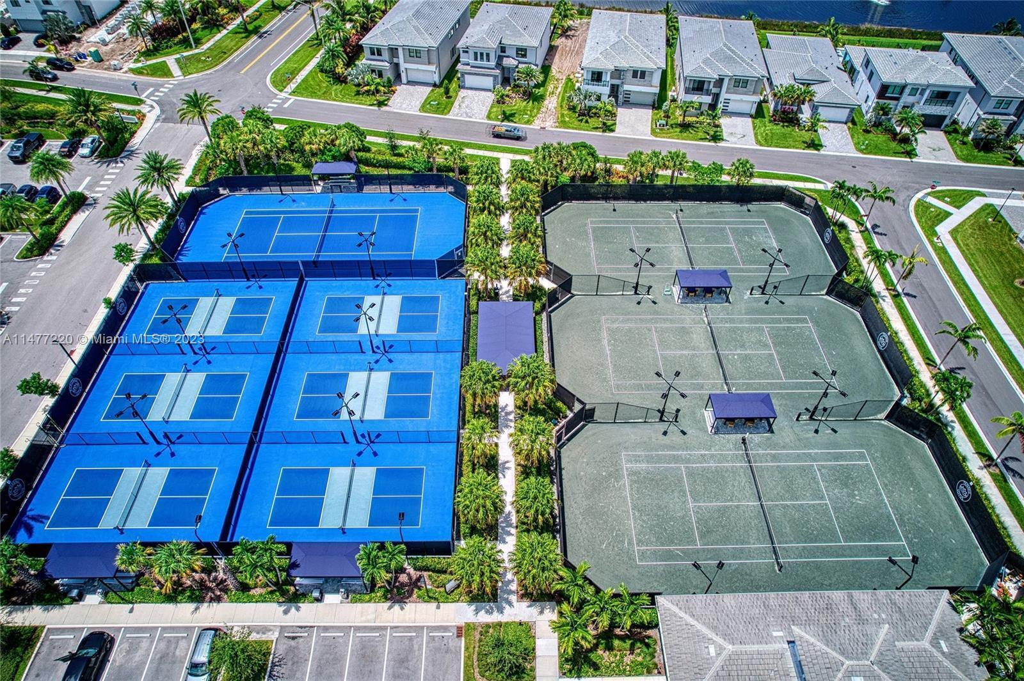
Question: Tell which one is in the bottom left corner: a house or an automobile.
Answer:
automobile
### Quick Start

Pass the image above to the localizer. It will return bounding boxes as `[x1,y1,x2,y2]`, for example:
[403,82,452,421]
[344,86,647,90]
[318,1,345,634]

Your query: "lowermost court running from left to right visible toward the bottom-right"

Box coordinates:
[561,420,990,594]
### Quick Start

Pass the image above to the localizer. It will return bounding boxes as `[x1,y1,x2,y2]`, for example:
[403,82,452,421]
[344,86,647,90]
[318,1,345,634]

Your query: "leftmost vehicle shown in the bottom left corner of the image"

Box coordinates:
[56,633,109,681]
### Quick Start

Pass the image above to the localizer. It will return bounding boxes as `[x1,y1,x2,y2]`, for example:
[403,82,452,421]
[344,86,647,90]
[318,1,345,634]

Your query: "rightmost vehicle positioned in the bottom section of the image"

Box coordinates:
[182,632,224,681]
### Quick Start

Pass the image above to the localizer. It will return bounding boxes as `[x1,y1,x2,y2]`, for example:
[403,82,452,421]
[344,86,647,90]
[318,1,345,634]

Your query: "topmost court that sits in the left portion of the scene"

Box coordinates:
[174,192,464,280]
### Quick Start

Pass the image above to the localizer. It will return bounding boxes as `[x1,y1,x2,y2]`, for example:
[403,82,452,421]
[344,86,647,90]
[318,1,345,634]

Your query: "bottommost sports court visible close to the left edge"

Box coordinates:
[16,444,255,544]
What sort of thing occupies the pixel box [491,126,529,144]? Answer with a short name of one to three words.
vehicle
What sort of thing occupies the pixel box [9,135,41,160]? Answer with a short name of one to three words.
truck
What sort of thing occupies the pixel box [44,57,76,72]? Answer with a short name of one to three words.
car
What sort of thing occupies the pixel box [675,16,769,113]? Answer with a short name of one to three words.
house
